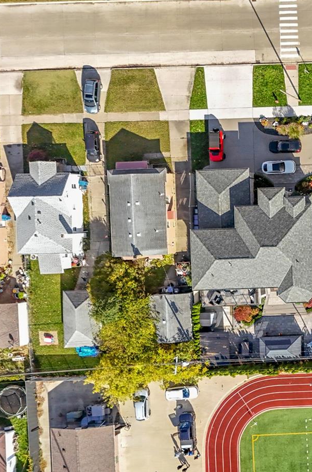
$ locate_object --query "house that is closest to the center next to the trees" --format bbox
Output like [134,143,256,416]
[108,161,175,259]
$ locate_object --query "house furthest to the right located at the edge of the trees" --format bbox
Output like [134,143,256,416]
[190,168,312,303]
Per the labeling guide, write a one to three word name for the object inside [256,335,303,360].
gazebo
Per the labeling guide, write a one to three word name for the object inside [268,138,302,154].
car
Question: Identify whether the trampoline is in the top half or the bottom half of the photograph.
bottom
